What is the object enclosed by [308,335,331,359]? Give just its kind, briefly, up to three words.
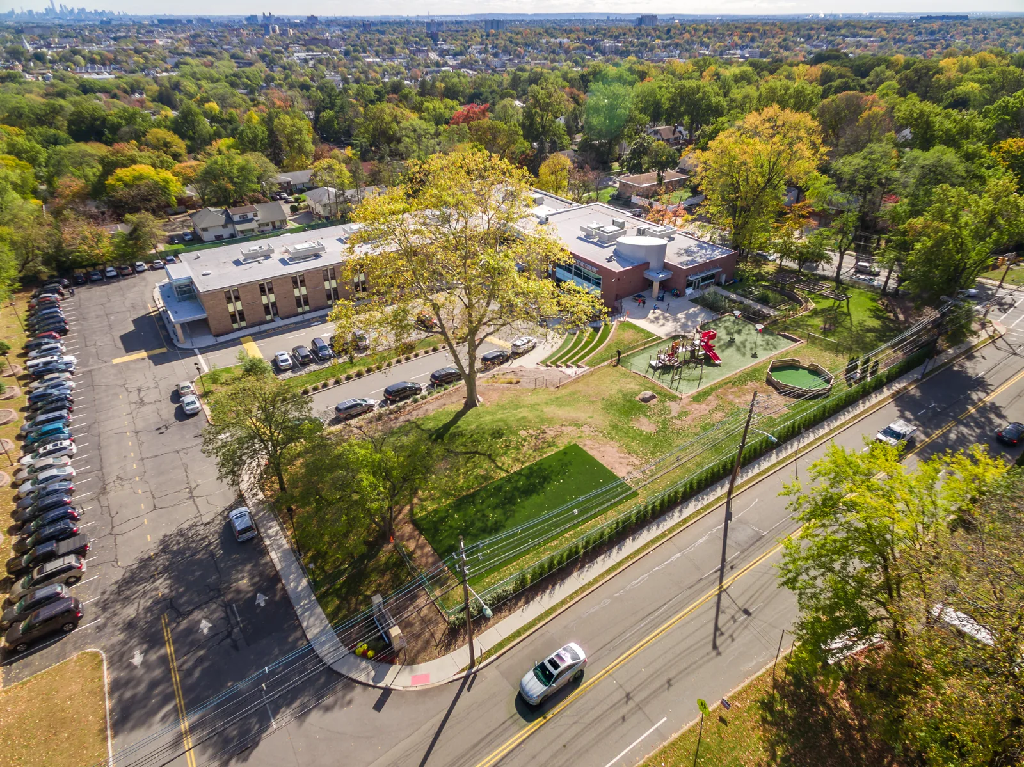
car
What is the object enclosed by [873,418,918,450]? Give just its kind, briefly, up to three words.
vehicle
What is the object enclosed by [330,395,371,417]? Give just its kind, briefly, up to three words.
car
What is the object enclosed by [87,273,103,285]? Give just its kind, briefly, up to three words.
vehicle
